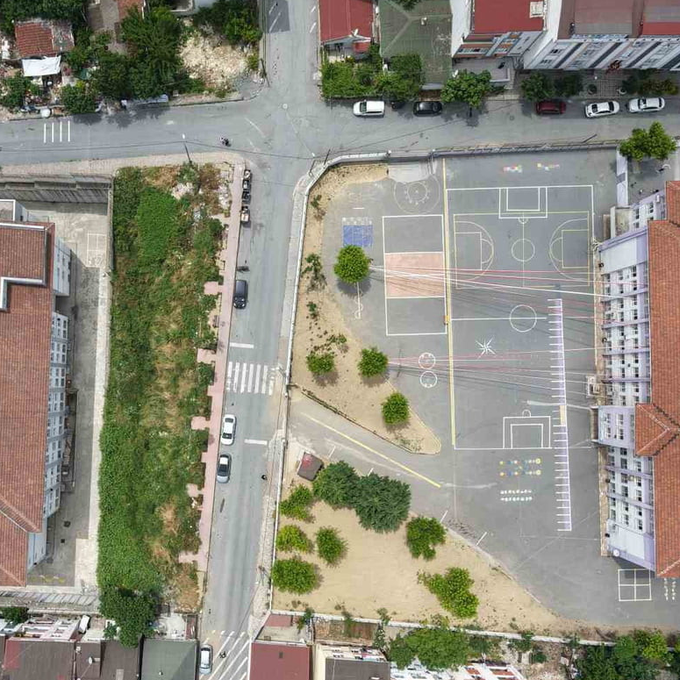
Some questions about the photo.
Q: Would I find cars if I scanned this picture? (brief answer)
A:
Yes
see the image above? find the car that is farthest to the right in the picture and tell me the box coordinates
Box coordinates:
[628,97,660,113]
